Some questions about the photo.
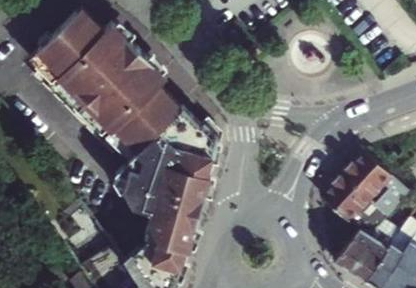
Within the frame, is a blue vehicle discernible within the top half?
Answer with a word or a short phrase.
Yes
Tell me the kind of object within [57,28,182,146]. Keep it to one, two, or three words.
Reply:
building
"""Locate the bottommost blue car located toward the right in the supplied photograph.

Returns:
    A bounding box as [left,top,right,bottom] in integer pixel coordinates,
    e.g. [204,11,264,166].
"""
[374,45,399,66]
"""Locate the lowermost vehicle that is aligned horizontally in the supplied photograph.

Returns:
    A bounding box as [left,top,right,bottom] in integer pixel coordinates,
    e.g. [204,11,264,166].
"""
[346,102,372,116]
